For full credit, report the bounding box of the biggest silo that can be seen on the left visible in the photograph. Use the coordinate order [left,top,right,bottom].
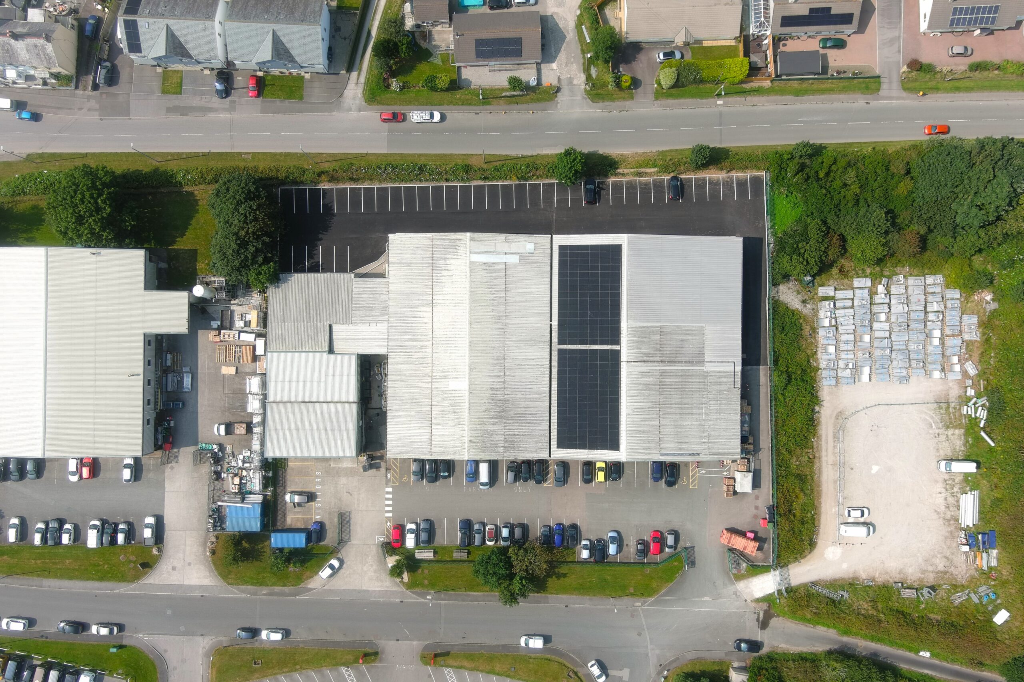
[189,283,218,299]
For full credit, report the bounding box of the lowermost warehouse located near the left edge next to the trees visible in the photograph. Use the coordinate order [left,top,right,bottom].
[0,246,201,459]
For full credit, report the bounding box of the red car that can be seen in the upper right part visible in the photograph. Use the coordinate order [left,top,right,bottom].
[923,123,948,136]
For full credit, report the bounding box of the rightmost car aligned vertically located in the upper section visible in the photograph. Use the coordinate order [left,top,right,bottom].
[669,176,681,200]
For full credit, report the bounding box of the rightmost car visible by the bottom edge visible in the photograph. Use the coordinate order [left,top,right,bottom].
[733,638,760,653]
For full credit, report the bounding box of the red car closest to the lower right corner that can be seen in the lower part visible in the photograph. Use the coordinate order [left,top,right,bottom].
[650,531,662,555]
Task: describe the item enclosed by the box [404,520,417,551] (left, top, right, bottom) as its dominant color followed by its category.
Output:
white vehicle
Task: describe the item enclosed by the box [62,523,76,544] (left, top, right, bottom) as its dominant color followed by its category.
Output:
white car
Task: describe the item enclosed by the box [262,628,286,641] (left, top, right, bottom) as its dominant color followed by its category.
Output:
white vehicle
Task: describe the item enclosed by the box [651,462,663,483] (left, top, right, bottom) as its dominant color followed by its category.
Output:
blue vehicle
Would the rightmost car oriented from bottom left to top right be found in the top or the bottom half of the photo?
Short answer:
bottom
